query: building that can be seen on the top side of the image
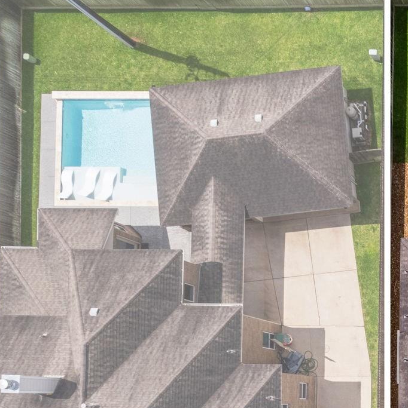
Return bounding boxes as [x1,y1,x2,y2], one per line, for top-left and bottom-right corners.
[148,65,370,236]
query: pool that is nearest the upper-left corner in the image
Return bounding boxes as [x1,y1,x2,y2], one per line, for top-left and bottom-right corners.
[53,92,159,207]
